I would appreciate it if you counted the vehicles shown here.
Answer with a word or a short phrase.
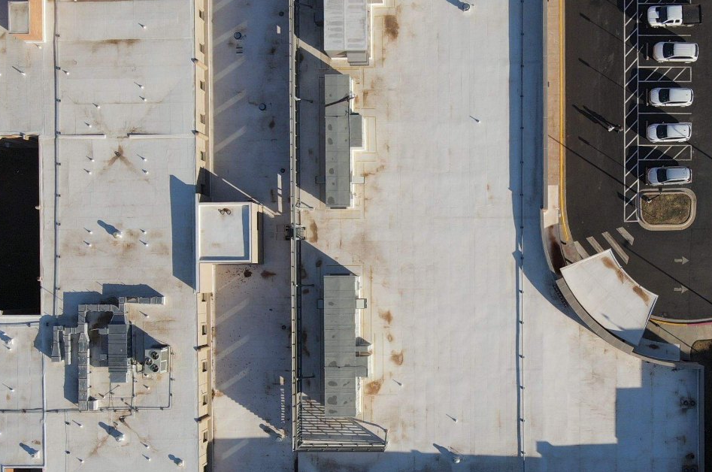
five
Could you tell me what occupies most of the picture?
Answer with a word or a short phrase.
buildings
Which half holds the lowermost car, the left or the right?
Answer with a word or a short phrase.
right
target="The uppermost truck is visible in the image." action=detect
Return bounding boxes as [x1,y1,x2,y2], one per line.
[646,2,703,28]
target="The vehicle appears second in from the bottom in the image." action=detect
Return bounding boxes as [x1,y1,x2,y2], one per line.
[646,120,692,142]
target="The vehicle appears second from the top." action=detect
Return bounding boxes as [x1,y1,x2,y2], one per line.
[651,40,700,63]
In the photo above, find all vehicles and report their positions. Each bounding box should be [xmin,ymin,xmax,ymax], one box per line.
[646,163,692,186]
[651,40,700,63]
[646,2,703,28]
[647,85,693,108]
[646,120,692,142]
